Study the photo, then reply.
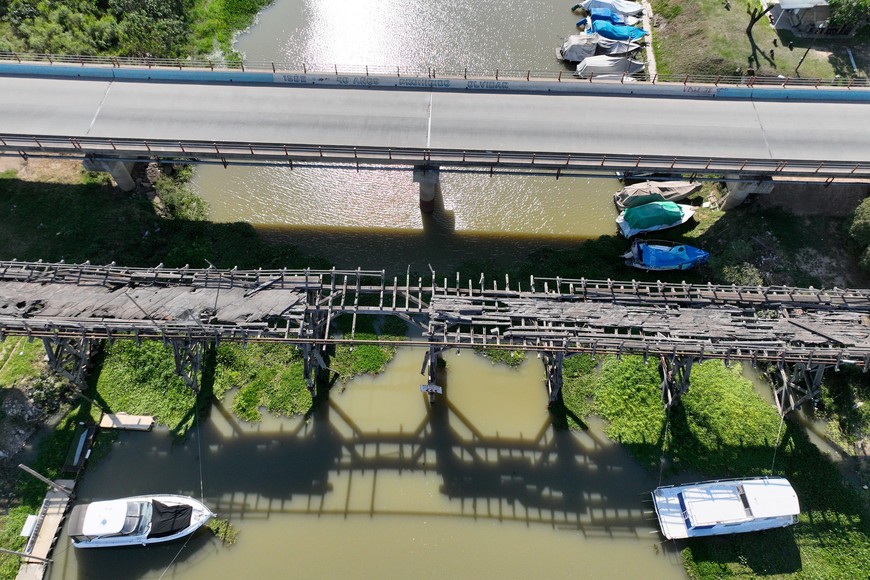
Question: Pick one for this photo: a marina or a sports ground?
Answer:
marina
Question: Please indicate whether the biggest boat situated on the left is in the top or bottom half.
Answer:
bottom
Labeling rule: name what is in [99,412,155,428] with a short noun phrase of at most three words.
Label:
pier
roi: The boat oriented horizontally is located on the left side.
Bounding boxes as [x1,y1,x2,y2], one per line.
[67,494,214,548]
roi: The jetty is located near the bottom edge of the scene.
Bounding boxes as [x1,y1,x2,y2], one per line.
[23,463,82,580]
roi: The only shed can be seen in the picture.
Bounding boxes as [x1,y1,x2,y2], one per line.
[753,0,851,52]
